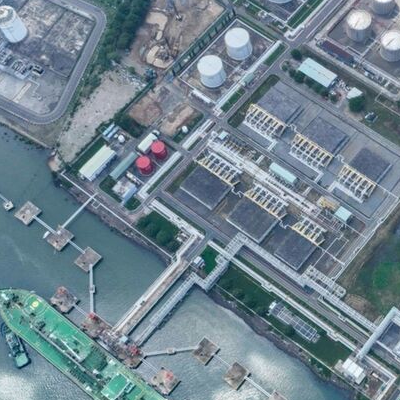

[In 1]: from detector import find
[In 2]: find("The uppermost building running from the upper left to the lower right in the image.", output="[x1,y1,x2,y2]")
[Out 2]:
[298,58,337,90]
